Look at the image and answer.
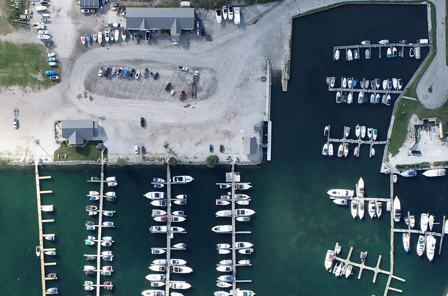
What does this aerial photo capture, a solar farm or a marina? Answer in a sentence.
This looks like a marina.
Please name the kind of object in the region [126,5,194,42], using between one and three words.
building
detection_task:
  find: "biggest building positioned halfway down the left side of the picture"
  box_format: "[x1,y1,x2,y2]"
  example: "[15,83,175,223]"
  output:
[61,118,100,147]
